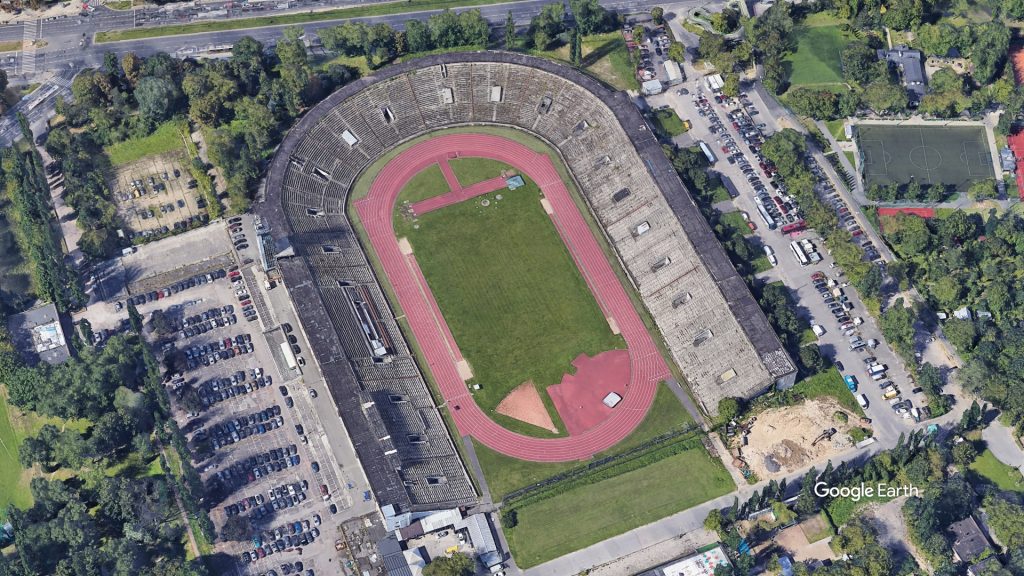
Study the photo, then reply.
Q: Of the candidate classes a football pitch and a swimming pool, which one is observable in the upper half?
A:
football pitch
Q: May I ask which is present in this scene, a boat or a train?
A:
train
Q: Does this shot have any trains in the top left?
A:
Yes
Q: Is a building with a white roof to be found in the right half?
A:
Yes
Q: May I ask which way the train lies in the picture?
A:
at an angle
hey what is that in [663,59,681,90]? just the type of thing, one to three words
building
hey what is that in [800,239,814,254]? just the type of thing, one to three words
vehicle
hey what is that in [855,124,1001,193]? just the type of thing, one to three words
soccer field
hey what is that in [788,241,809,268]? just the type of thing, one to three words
bus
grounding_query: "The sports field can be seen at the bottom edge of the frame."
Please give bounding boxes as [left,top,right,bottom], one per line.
[506,446,737,569]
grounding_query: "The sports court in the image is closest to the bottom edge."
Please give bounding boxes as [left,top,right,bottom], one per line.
[878,206,935,232]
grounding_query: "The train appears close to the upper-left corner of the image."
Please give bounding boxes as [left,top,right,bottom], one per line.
[28,86,60,111]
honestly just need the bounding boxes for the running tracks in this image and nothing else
[353,134,708,502]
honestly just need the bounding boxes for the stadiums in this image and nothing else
[256,47,800,515]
